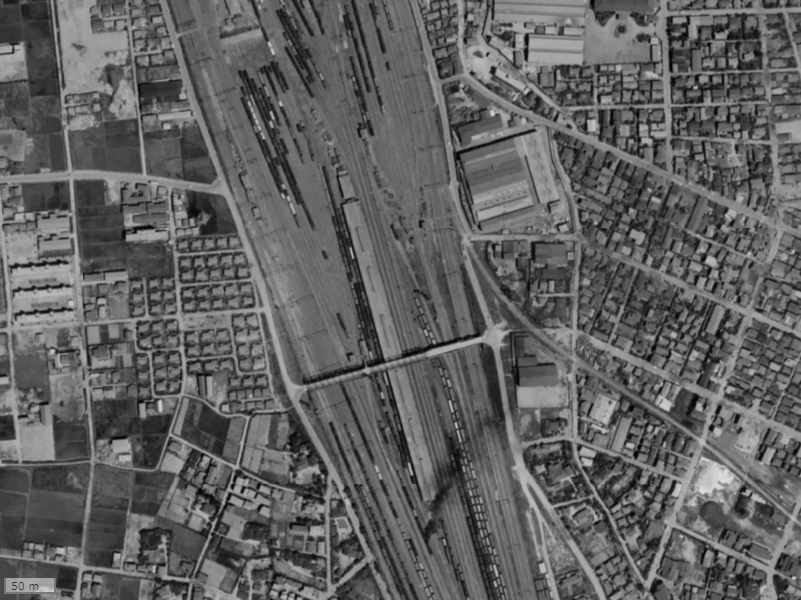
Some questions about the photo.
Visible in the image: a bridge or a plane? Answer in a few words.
bridge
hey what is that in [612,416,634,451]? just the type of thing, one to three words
shed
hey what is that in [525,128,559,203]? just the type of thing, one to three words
building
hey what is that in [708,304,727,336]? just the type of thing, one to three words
shed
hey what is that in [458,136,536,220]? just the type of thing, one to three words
building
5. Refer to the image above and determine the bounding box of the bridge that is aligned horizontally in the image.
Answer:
[301,334,487,391]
